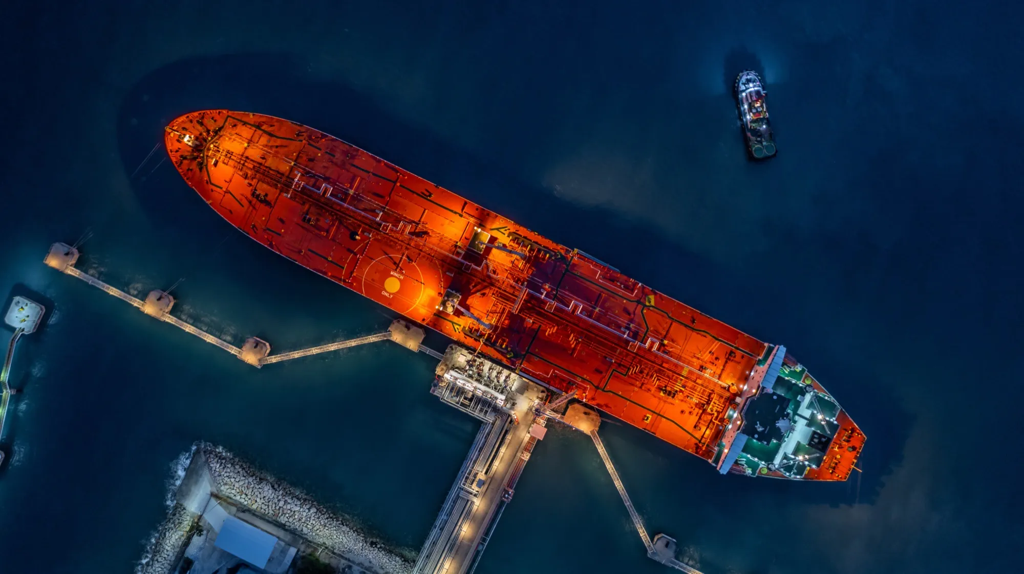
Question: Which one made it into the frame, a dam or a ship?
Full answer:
I can see a ship in this picture.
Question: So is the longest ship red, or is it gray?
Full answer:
The longest ship is red.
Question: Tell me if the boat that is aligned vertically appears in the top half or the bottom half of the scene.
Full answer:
Seen from above, the boat that is aligned vertically lies in the top half of the view.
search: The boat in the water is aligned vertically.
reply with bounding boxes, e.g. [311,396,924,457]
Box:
[737,69,776,160]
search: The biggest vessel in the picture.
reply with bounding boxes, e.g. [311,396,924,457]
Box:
[163,109,867,483]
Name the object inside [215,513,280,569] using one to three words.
shed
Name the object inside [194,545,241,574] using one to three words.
shed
